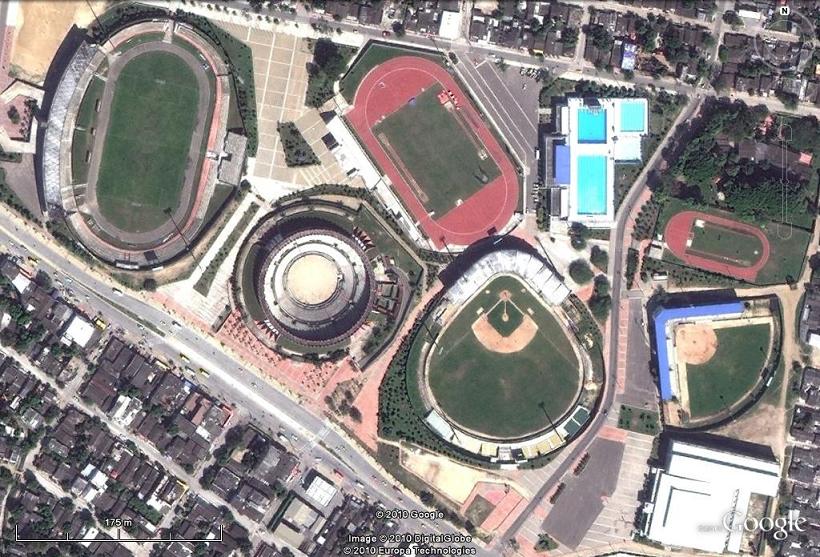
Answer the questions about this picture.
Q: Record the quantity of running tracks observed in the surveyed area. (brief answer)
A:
three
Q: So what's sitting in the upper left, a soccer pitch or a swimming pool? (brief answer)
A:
soccer pitch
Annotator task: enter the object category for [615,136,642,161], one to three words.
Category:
swimming pool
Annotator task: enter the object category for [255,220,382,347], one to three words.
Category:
stadium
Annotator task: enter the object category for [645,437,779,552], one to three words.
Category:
building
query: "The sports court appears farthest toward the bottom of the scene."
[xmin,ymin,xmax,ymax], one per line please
[461,483,528,534]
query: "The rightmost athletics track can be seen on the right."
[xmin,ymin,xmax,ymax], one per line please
[665,211,769,279]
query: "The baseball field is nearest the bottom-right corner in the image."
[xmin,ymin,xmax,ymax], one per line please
[676,317,774,421]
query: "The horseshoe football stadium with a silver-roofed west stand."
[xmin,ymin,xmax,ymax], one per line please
[39,15,231,271]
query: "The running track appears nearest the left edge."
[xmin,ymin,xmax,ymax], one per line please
[73,33,214,248]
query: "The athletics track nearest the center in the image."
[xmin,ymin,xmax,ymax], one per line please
[344,58,517,251]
